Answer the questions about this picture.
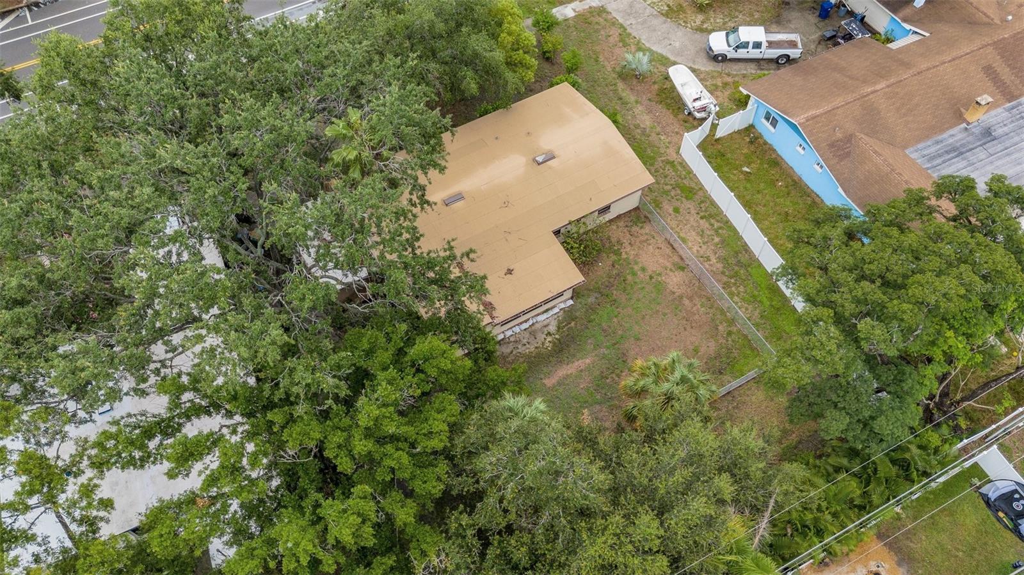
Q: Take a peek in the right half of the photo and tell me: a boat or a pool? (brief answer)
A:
boat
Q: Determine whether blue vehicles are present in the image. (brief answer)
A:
No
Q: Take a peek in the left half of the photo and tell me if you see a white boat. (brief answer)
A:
No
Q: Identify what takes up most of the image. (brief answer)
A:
trees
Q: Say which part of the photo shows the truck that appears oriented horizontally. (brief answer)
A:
top right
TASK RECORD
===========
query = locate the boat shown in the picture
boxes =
[670,59,725,122]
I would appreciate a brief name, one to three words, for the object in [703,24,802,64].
truck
